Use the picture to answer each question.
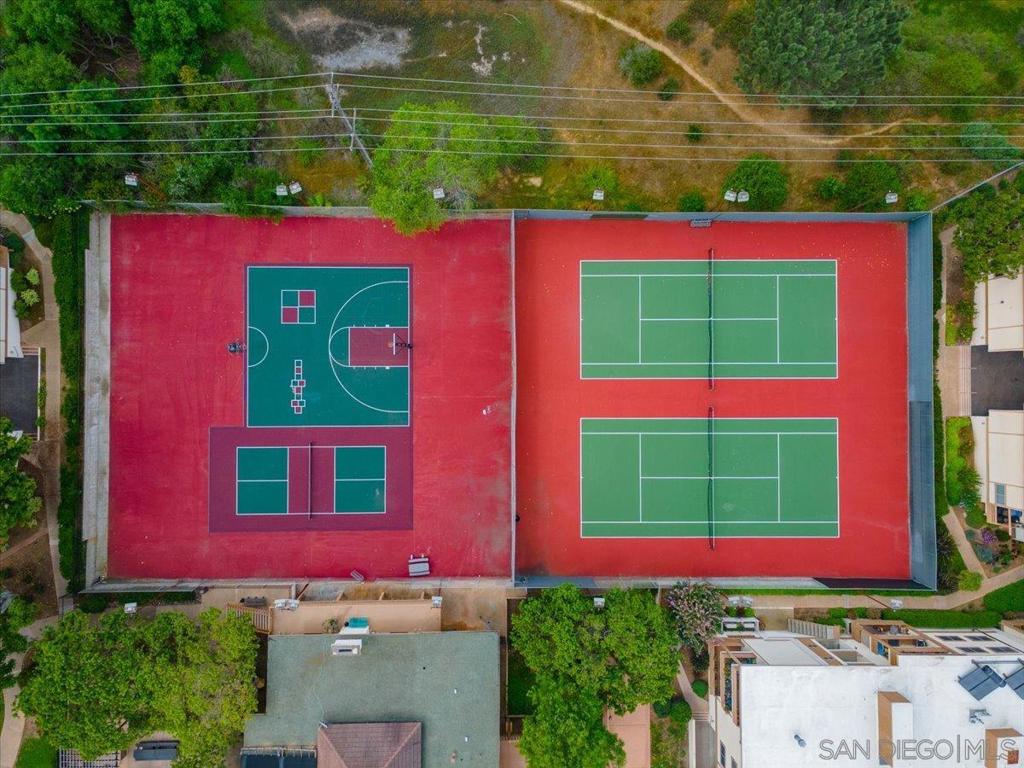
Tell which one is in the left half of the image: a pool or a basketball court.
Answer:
basketball court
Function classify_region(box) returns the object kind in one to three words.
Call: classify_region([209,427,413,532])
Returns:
sports court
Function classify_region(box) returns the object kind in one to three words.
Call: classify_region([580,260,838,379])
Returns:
tennis court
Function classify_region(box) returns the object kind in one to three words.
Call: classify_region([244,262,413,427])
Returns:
basketball court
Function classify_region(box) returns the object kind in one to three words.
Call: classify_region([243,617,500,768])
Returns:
building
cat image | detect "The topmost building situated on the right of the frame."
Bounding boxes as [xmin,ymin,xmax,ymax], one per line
[966,274,1024,351]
